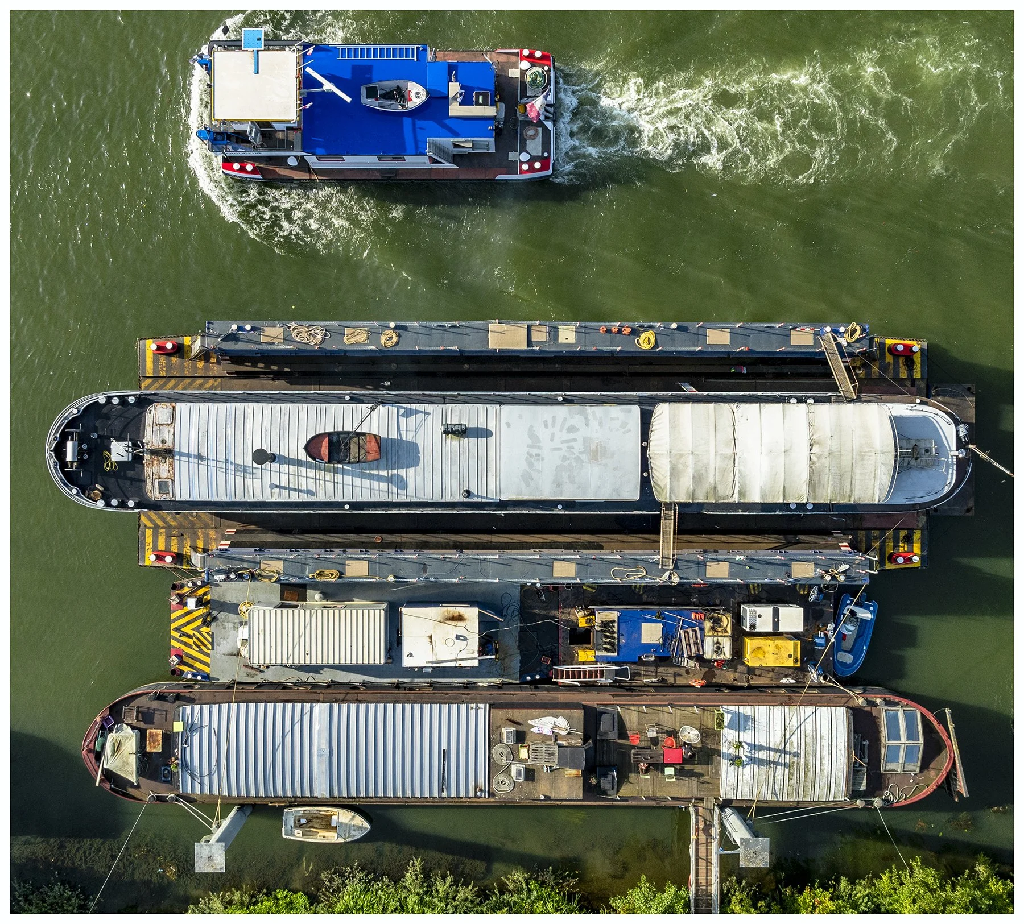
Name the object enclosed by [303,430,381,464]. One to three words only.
boat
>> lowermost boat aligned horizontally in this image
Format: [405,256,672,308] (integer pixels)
[282,805,372,843]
